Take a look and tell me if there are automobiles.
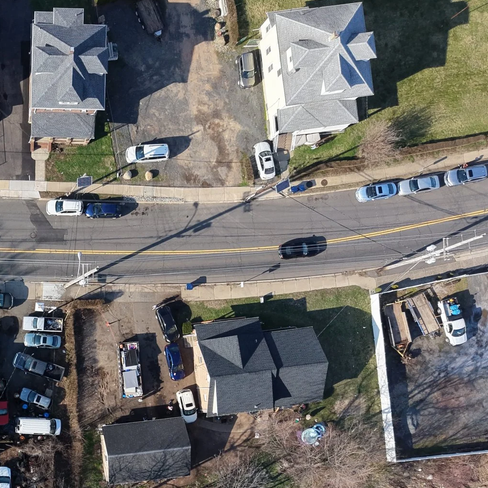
Yes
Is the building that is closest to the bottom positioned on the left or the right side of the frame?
left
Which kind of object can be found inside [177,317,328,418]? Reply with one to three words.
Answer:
house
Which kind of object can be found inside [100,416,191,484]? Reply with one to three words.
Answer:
building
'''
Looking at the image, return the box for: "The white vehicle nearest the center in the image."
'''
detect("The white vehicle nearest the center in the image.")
[251,141,277,182]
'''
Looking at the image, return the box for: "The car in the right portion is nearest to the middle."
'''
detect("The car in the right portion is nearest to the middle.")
[278,238,319,260]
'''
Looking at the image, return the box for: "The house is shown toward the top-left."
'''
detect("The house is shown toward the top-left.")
[28,7,122,150]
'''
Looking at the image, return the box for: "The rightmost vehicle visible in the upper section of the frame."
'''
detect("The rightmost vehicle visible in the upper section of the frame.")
[441,162,488,190]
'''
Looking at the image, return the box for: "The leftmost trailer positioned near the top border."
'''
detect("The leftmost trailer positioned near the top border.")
[136,0,163,36]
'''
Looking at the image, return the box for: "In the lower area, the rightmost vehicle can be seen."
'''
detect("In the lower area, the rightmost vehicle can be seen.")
[433,296,468,347]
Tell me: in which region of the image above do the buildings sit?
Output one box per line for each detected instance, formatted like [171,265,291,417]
[251,1,377,161]
[28,7,122,150]
[177,317,328,418]
[100,416,191,484]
